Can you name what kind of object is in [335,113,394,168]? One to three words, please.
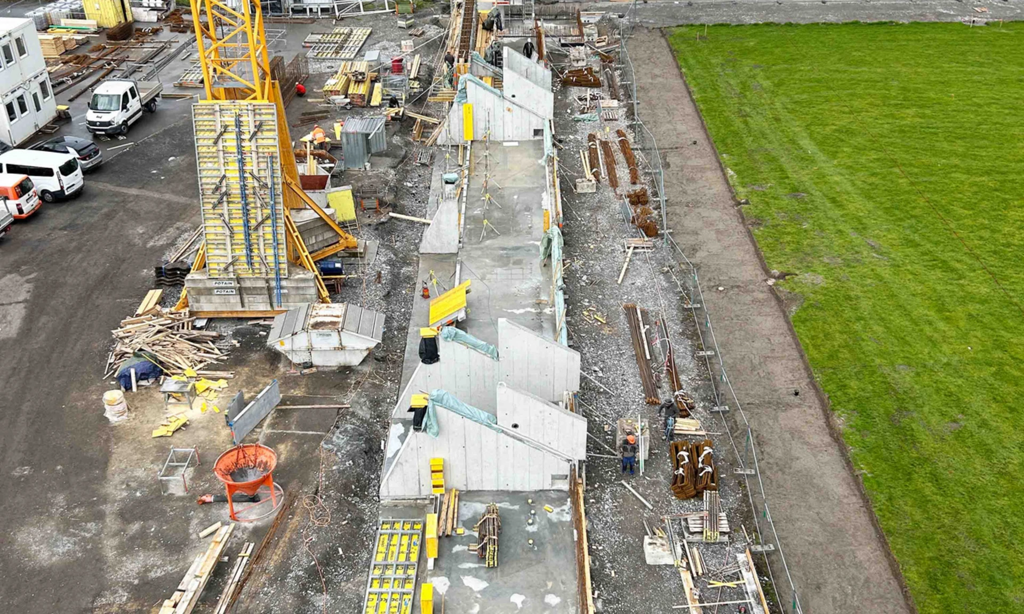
shed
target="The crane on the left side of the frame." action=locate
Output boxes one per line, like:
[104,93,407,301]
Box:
[172,0,355,314]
